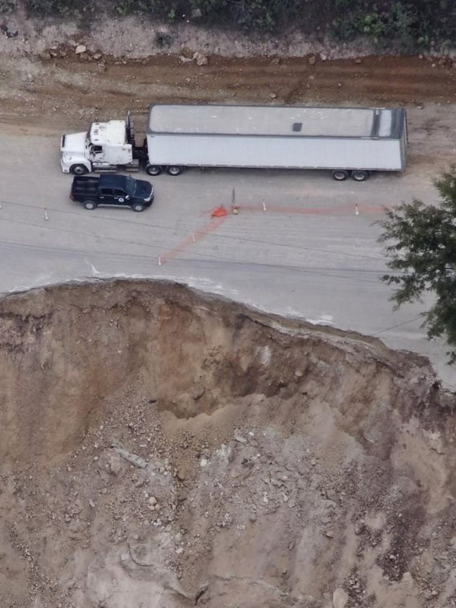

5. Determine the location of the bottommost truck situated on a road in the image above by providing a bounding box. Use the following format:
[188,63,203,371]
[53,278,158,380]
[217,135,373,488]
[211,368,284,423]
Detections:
[69,170,154,211]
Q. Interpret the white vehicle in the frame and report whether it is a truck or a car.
truck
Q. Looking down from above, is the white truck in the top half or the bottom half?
top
